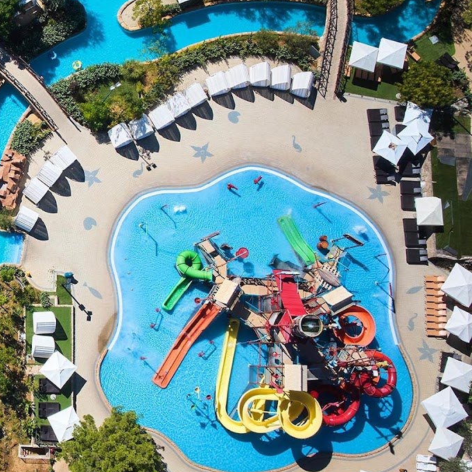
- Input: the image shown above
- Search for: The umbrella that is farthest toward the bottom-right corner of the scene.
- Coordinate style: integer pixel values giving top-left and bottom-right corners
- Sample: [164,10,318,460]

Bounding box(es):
[424,423,464,462]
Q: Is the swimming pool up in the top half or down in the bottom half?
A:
bottom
